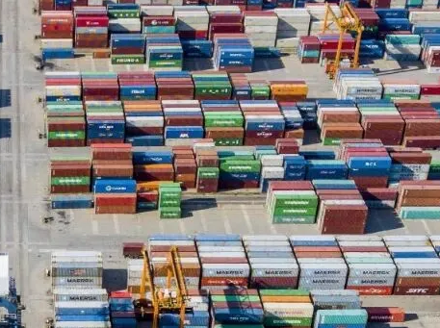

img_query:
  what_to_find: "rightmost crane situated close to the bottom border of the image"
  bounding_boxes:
[137,243,196,328]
